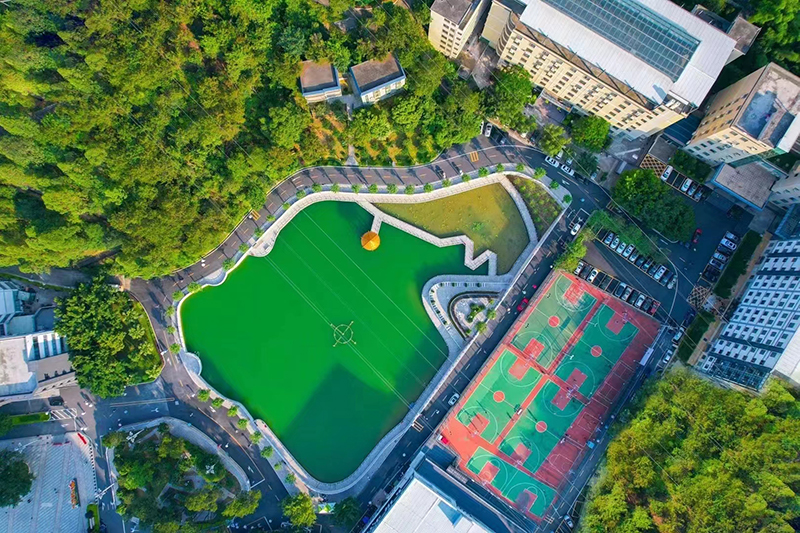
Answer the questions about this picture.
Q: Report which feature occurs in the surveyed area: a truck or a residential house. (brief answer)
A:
residential house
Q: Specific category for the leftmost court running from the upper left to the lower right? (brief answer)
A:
basketball court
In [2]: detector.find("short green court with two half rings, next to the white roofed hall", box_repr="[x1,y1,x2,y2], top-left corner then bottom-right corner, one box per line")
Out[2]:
[465,446,557,518]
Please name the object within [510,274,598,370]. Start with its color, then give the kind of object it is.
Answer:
green basketball court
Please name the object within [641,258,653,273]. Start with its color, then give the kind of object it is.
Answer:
blue vehicle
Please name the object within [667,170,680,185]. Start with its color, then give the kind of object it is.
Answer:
black vehicle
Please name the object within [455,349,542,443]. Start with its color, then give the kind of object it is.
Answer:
green basketball court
